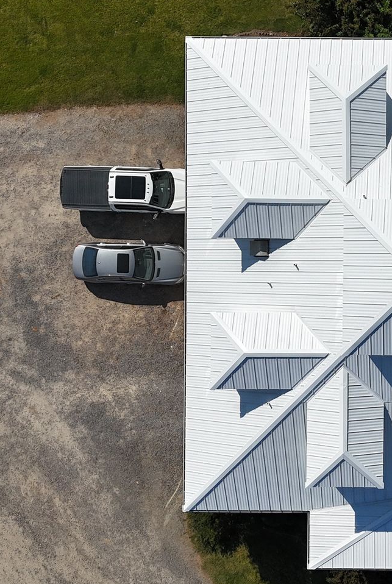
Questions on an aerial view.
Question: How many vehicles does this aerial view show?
2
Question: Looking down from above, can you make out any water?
No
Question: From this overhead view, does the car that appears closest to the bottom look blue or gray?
gray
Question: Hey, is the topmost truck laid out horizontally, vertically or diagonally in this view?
horizontally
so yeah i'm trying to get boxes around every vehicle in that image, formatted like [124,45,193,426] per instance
[73,240,185,287]
[58,155,186,221]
